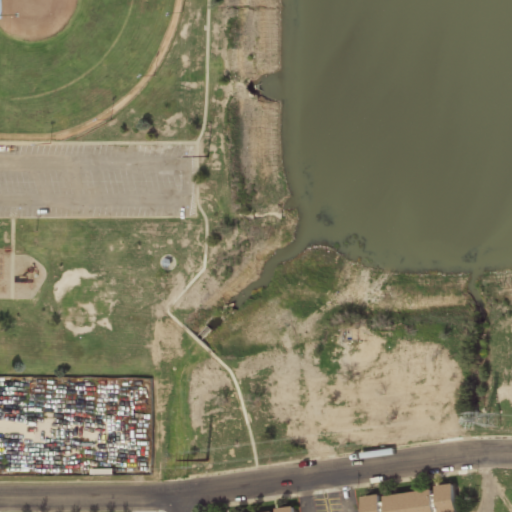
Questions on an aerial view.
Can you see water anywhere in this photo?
Yes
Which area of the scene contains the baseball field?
top left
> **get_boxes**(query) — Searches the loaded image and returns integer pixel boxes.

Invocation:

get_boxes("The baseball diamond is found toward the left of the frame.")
[0,0,184,140]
